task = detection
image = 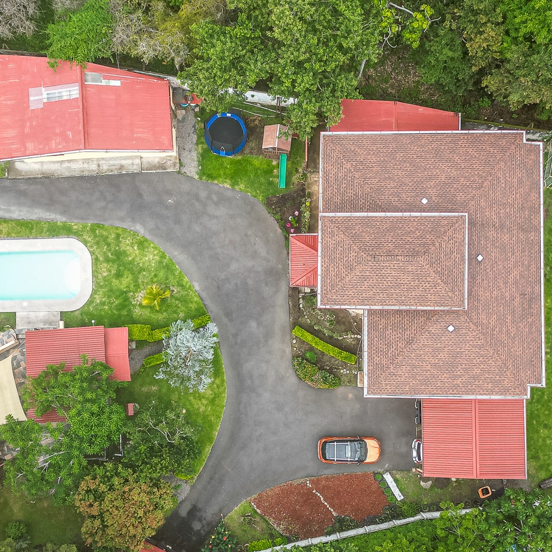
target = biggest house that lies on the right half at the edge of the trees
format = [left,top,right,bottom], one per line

[316,129,548,400]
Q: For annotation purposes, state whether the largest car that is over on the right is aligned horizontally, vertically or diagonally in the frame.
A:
horizontally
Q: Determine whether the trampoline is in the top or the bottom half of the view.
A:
top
